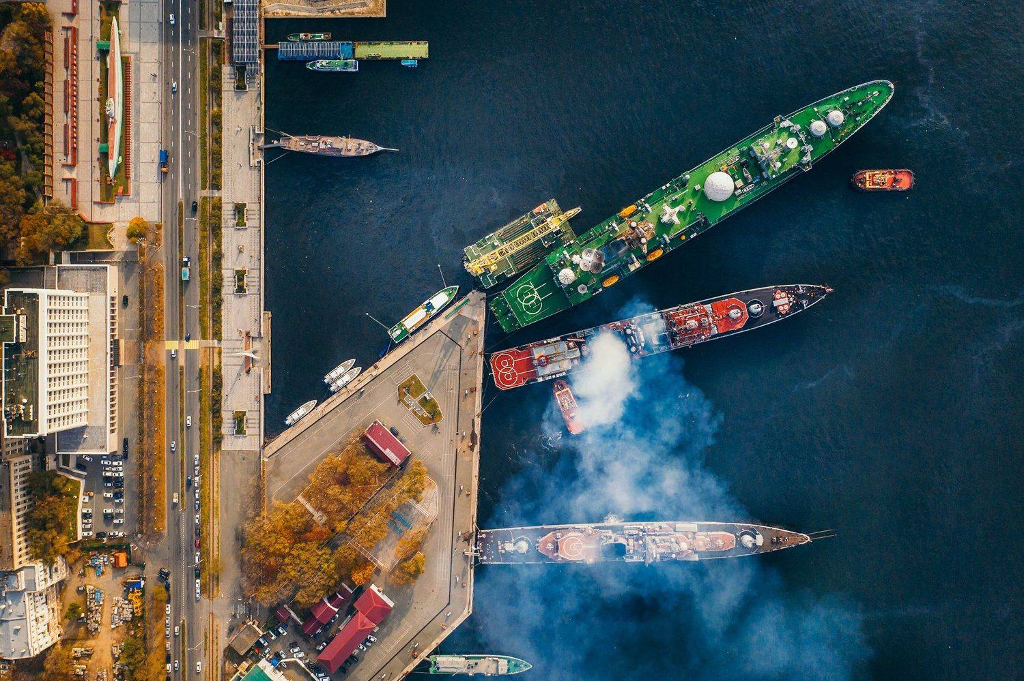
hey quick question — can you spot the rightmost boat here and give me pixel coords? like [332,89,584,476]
[851,169,916,191]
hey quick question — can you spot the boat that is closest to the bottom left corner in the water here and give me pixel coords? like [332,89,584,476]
[284,401,317,425]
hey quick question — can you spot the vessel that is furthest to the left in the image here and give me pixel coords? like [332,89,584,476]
[106,16,126,179]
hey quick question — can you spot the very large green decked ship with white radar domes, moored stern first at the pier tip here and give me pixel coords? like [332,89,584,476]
[480,79,895,353]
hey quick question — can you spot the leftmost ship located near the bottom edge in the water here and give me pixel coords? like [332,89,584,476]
[407,651,532,677]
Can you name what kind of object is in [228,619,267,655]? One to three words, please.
building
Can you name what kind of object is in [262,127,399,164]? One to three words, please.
ship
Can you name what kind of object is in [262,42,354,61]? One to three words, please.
pier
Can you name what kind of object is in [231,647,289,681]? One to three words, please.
building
